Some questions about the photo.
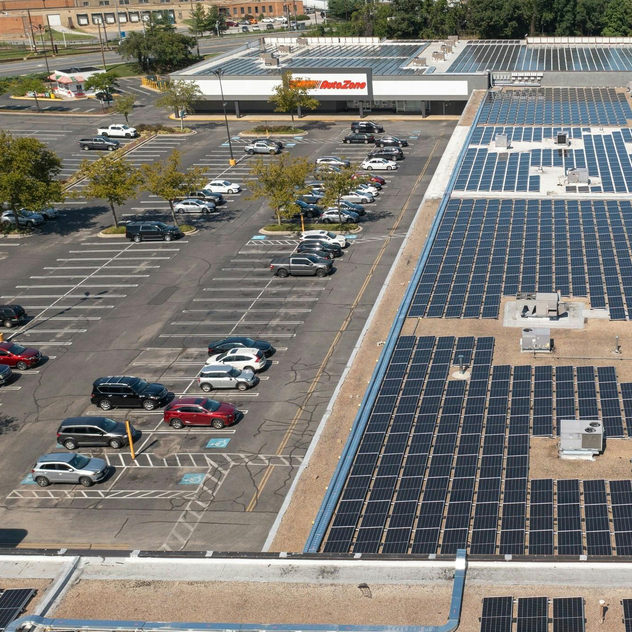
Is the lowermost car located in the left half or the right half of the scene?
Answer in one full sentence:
It is on the left.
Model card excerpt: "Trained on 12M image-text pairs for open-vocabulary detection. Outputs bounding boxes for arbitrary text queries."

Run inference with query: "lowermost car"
[26,447,120,486]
